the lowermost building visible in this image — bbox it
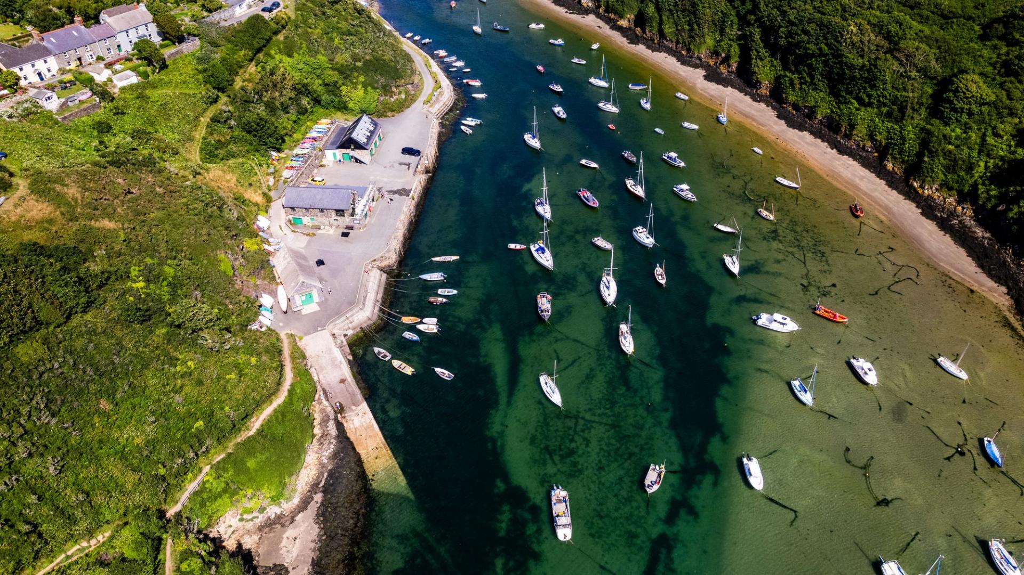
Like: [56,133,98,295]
[270,229,324,317]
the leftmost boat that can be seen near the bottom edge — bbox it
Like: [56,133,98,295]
[551,484,572,553]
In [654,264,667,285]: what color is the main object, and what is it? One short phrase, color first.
white boat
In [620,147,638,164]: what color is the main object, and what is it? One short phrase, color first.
gray boat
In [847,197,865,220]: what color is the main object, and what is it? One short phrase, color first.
red boat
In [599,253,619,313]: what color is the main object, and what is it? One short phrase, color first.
white boat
